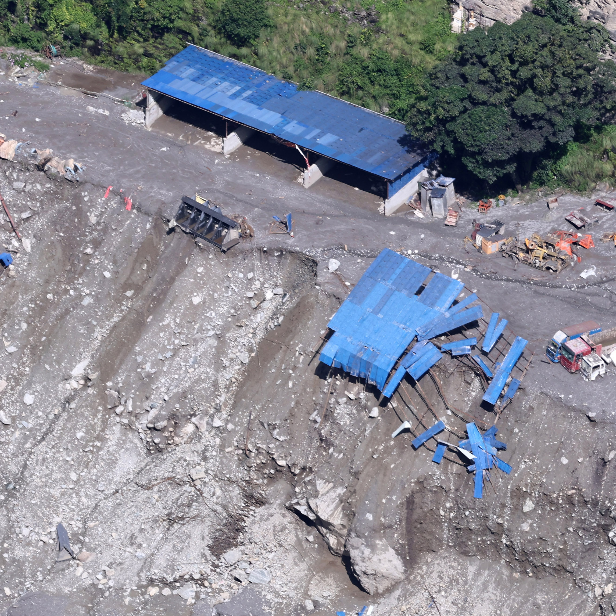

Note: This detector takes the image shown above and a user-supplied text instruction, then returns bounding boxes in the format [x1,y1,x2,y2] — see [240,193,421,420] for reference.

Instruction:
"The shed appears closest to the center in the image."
[321,246,468,394]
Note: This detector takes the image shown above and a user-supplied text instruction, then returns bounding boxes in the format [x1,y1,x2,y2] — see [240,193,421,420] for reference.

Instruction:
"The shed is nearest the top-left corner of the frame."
[139,45,432,217]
